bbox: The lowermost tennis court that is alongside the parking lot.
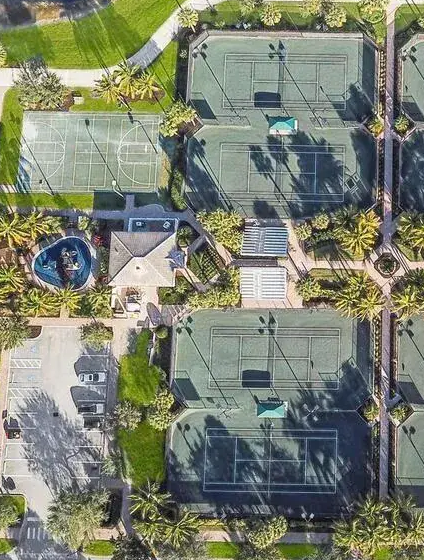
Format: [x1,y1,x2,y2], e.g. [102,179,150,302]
[166,409,372,518]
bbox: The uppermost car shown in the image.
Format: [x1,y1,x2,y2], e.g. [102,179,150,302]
[78,372,107,385]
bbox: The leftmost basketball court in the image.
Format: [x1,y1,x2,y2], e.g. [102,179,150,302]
[17,112,161,193]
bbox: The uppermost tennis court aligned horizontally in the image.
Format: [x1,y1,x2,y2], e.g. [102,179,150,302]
[187,34,375,125]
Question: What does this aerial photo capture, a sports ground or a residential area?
sports ground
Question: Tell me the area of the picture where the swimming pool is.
left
